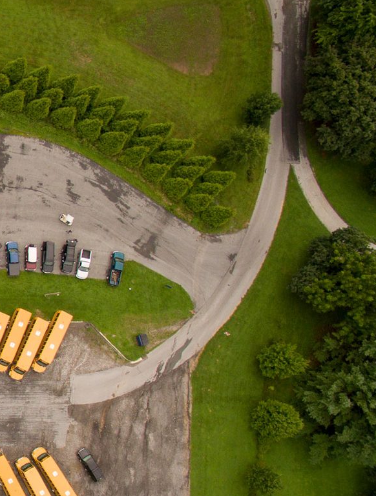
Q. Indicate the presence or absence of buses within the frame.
Yes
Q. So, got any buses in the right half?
No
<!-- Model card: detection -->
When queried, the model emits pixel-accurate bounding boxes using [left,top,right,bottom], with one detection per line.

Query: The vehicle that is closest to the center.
[107,251,125,287]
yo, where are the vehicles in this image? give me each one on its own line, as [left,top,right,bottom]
[66,237,77,247]
[32,445,76,496]
[75,249,92,280]
[16,455,51,496]
[41,241,56,274]
[0,448,25,496]
[9,317,48,382]
[25,246,39,271]
[6,241,20,277]
[77,446,105,484]
[60,246,77,274]
[107,251,125,287]
[59,215,77,226]
[31,310,72,376]
[0,308,30,375]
